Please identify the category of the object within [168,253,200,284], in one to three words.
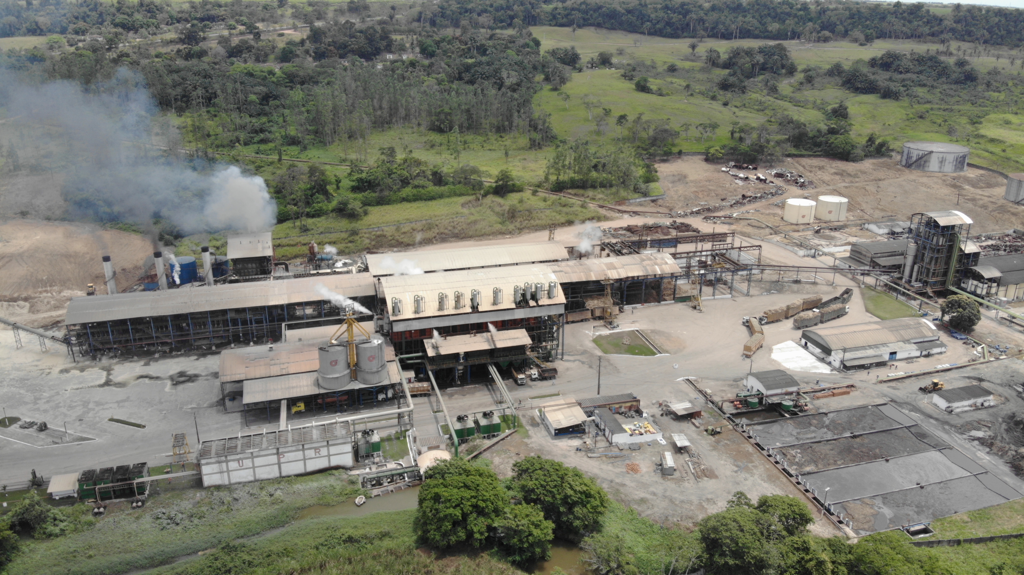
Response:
storage tank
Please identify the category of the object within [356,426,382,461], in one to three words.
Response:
cooling tower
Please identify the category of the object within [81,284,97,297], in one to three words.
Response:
vehicle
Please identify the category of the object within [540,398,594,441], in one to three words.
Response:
building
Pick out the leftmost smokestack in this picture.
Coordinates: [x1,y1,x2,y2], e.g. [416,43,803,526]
[102,255,120,295]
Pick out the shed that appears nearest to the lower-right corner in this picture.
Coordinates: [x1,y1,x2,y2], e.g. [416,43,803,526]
[928,383,996,411]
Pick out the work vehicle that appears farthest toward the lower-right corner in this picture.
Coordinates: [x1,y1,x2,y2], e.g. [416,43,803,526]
[918,376,937,397]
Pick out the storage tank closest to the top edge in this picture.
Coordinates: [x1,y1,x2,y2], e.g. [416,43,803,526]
[902,142,971,176]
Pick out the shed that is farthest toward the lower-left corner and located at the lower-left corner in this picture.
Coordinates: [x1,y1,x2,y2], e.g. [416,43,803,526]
[42,469,87,504]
